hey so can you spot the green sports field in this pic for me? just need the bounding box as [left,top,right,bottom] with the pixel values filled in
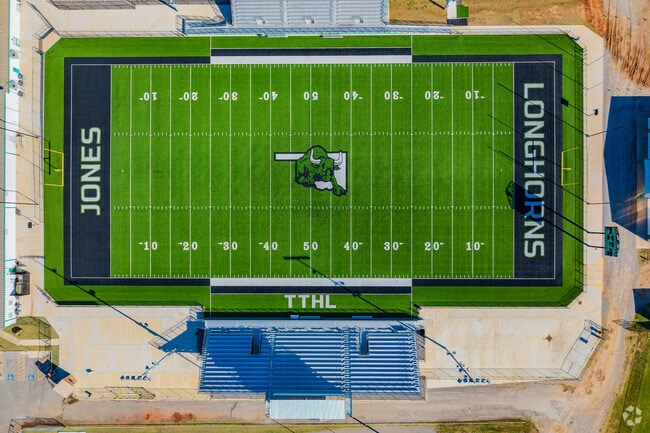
[44,34,584,318]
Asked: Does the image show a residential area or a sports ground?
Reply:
sports ground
